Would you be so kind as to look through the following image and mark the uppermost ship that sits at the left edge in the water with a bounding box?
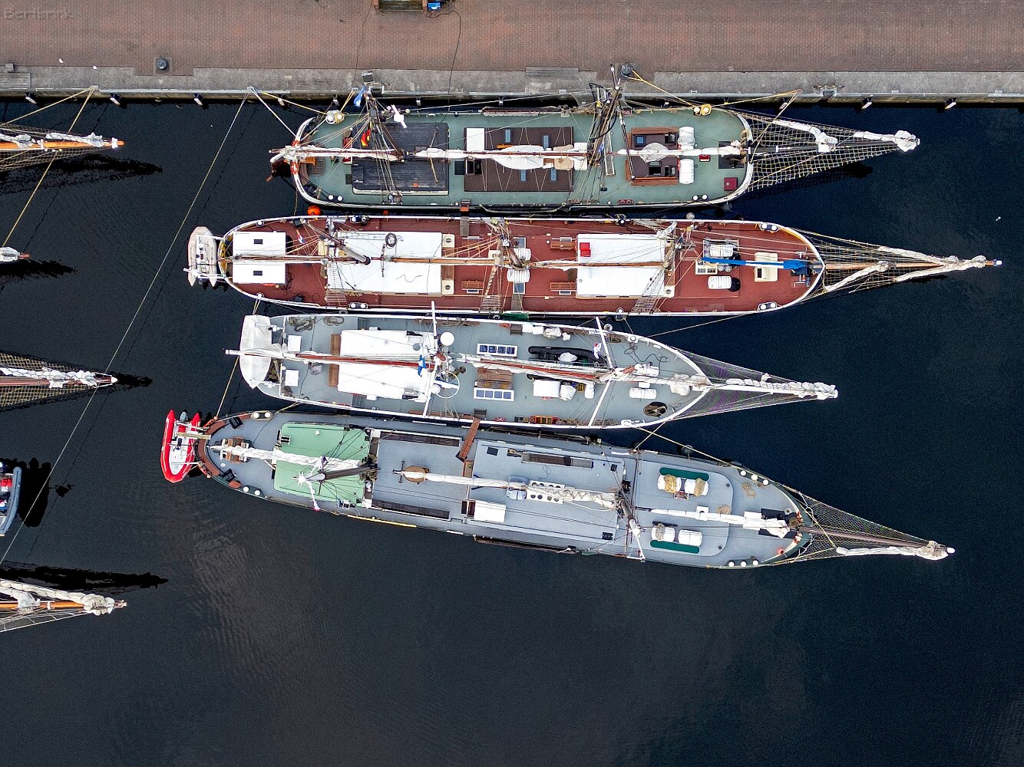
[0,125,127,170]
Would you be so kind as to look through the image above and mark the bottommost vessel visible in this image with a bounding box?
[0,580,128,633]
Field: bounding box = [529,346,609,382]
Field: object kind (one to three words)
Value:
boat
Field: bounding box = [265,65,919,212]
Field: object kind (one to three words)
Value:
ship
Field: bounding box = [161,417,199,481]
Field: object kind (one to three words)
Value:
boat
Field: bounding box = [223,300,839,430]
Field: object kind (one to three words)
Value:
ship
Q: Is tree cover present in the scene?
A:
No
